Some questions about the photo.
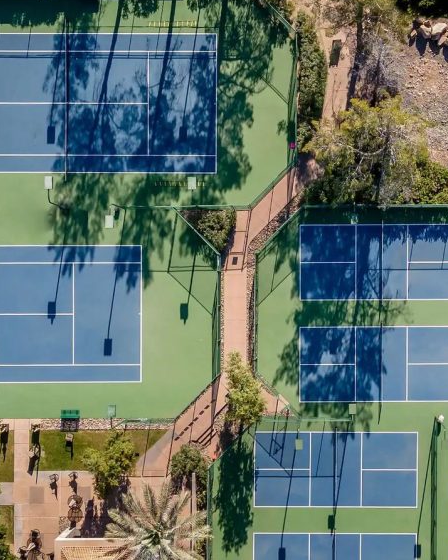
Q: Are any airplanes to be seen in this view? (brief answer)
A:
No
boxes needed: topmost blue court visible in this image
[0,33,217,174]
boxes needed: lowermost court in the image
[252,533,418,560]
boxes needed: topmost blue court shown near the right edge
[299,224,448,301]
